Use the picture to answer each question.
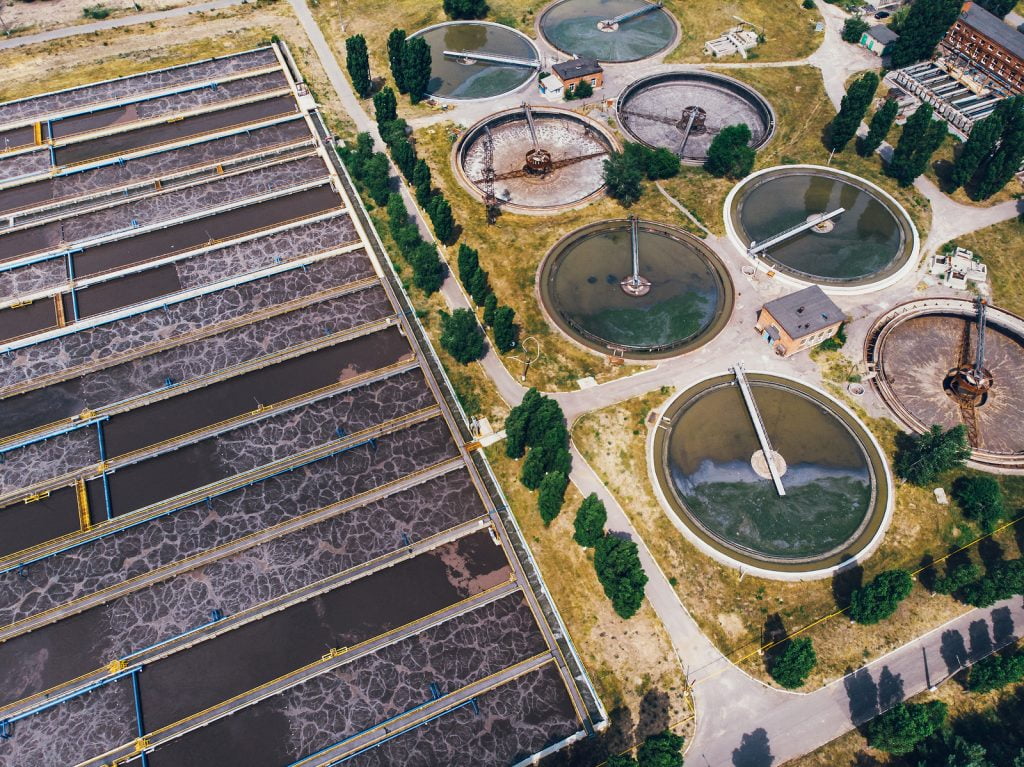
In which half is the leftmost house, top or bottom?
top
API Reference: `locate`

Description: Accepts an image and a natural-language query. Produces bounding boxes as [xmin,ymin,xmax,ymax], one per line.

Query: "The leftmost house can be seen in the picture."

[543,59,605,104]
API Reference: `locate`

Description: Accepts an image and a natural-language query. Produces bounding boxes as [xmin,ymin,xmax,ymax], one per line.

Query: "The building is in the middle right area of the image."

[758,285,850,353]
